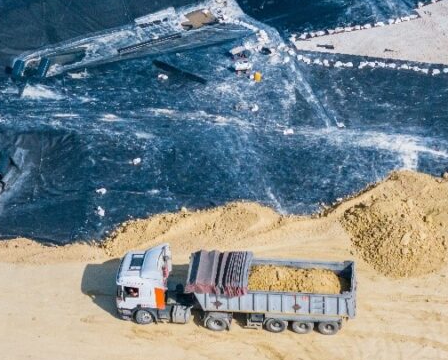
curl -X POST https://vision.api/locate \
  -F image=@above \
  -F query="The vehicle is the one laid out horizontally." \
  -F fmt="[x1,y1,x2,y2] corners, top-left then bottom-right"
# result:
[116,242,360,334]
